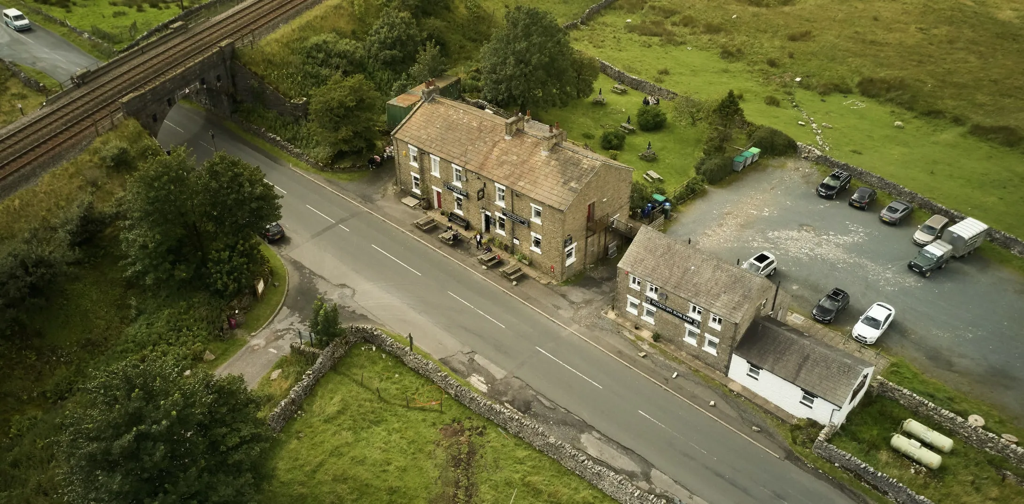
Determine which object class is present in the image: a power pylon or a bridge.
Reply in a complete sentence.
There is a bridge in the scene.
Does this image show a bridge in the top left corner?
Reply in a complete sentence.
Yes, a bridge appears in the top left corner.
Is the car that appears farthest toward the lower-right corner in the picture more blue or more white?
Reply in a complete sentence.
In this view, the car that appears farthest toward the lower-right corner is white.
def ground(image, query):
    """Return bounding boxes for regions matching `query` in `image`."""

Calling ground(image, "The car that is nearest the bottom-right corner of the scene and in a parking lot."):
[855,302,897,344]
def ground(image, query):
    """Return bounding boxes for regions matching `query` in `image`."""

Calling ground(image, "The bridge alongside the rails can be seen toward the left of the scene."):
[47,10,313,175]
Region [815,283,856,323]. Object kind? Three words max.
car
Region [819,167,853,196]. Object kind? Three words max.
car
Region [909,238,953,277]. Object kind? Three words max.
vehicle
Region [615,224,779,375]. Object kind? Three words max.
barn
